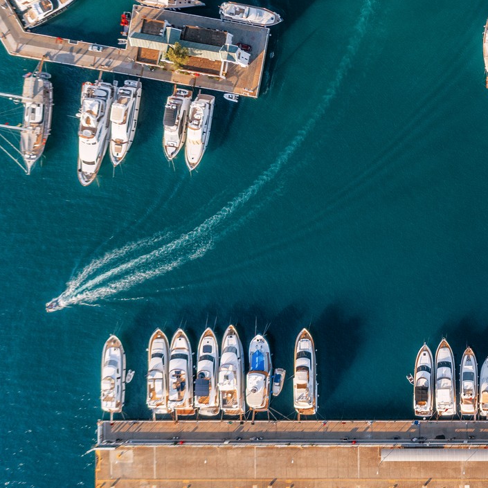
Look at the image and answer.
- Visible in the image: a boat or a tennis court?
boat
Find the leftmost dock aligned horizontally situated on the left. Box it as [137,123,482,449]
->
[0,0,274,99]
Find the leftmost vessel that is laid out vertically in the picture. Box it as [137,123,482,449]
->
[0,64,52,178]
